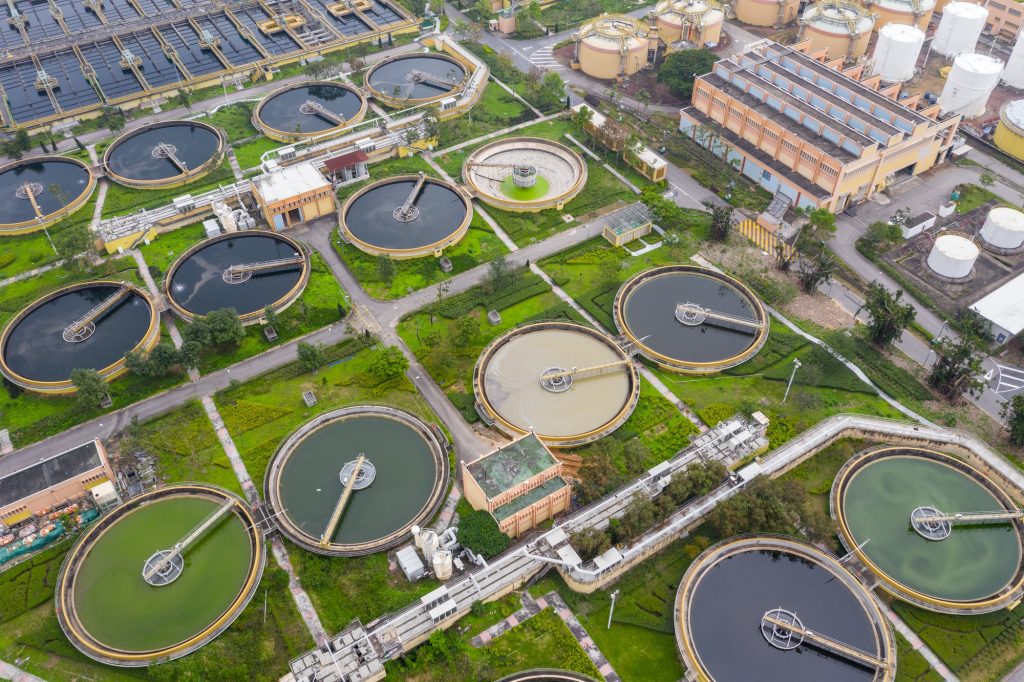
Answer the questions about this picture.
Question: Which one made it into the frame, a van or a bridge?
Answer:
bridge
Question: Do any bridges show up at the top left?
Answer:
Yes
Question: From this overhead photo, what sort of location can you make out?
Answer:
industrial area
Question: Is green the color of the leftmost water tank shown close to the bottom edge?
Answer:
Yes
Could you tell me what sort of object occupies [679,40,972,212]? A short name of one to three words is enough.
building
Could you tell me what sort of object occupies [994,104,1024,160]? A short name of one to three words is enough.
storage tank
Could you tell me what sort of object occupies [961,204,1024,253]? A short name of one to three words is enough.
storage tank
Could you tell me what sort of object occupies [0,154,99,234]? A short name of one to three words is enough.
water tank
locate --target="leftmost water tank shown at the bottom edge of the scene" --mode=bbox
[56,482,267,667]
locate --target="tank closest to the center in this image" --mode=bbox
[474,319,640,448]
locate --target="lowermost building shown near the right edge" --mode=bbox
[968,274,1024,355]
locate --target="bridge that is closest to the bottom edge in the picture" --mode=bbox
[766,609,896,677]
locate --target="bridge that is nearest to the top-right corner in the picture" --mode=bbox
[679,301,769,335]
